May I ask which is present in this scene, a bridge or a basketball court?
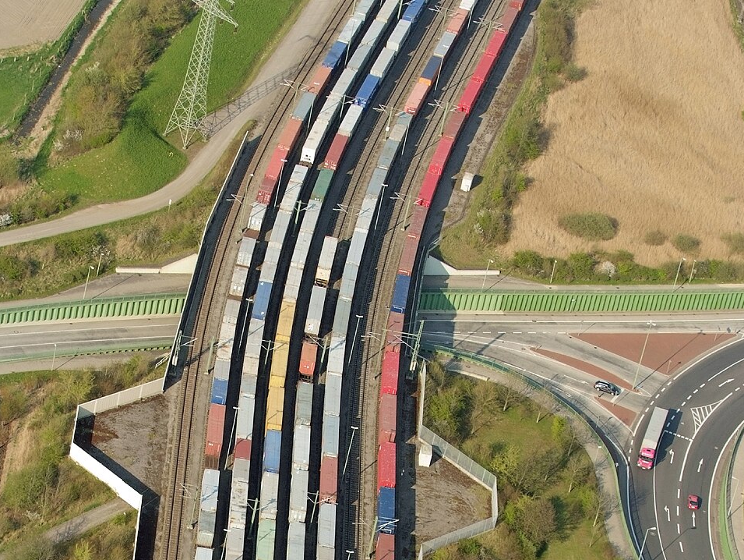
bridge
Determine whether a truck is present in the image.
Yes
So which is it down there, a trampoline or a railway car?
railway car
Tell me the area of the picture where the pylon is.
top left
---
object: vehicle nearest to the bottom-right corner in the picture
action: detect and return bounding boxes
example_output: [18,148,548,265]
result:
[688,492,700,508]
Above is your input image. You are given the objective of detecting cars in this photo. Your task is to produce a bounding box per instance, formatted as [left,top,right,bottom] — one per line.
[688,492,700,508]
[594,380,621,395]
